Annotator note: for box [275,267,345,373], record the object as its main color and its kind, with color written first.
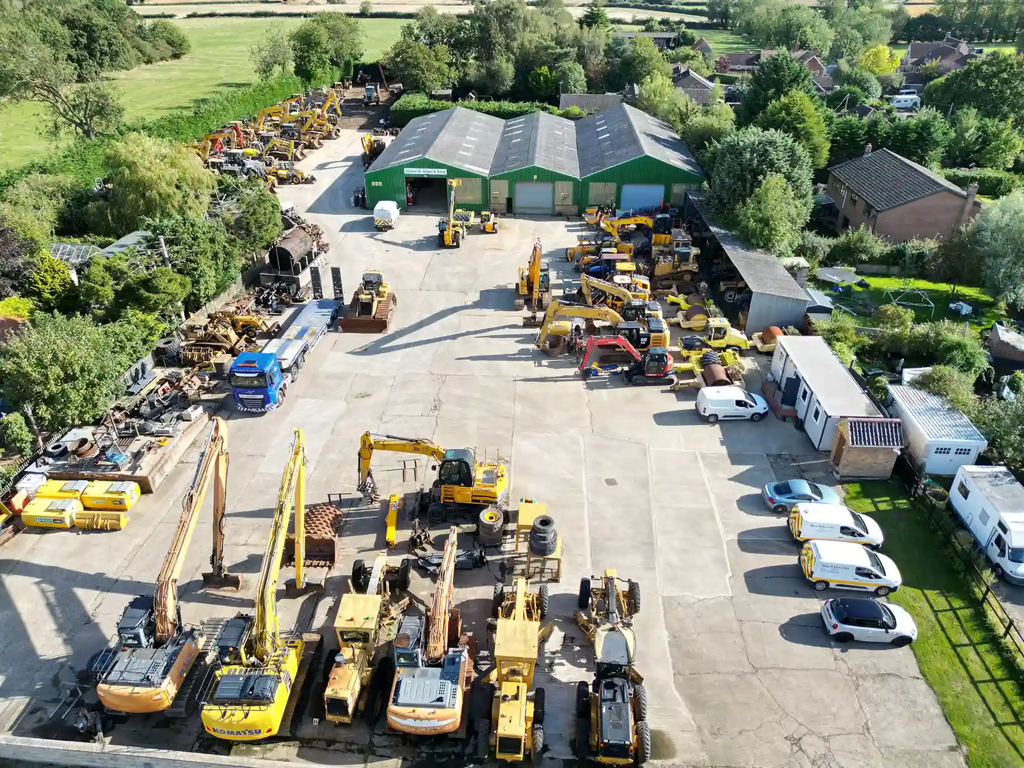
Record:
white vehicle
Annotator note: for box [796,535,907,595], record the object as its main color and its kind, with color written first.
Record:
white van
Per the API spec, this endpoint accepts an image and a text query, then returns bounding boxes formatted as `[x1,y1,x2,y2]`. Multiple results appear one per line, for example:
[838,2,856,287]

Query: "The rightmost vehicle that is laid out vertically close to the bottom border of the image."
[575,567,664,763]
